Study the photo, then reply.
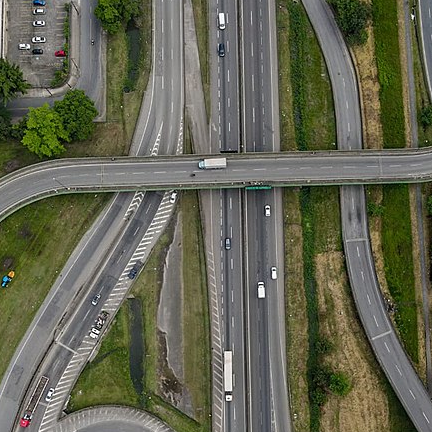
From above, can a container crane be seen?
No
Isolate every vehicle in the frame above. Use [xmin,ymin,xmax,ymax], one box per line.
[32,20,47,27]
[271,267,277,280]
[33,0,47,6]
[219,11,225,30]
[223,351,233,400]
[33,8,47,15]
[219,43,225,58]
[46,387,55,402]
[31,48,45,55]
[55,51,67,57]
[225,237,230,250]
[91,294,102,305]
[266,204,271,218]
[20,374,51,424]
[2,269,17,287]
[86,309,111,338]
[32,36,47,43]
[258,282,264,298]
[18,44,31,50]
[169,190,179,204]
